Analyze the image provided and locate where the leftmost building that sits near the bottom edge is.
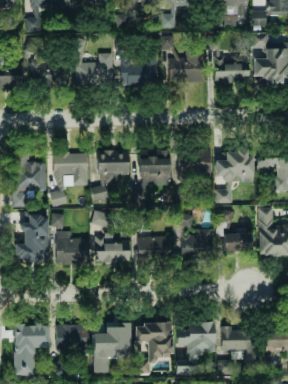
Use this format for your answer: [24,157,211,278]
[14,325,50,376]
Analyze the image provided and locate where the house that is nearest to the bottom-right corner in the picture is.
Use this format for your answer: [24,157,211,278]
[266,338,288,354]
